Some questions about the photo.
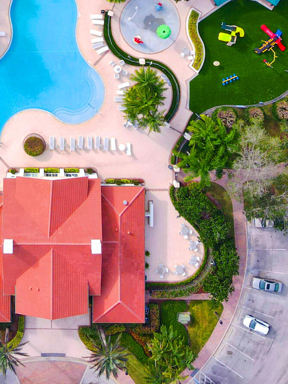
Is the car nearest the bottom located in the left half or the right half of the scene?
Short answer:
right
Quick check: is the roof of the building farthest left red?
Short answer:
Yes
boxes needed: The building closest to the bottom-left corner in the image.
[0,171,154,324]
